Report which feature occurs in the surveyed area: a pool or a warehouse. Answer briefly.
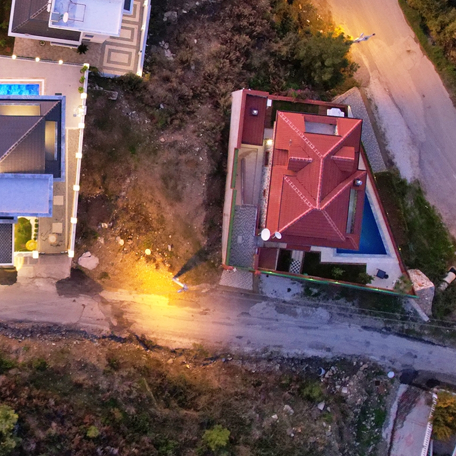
pool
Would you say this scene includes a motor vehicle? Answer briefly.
No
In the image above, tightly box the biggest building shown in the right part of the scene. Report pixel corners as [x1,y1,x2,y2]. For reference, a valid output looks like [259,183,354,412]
[256,110,368,250]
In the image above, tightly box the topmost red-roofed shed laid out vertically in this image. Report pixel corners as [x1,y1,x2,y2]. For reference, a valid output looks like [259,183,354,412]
[241,95,267,146]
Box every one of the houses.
[0,96,65,223]
[7,0,134,50]
[256,110,368,250]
